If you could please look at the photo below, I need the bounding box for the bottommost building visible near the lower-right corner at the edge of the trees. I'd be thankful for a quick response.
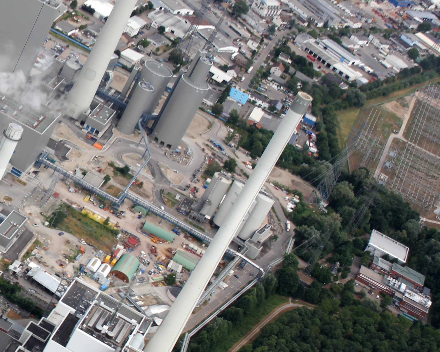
[395,285,437,315]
